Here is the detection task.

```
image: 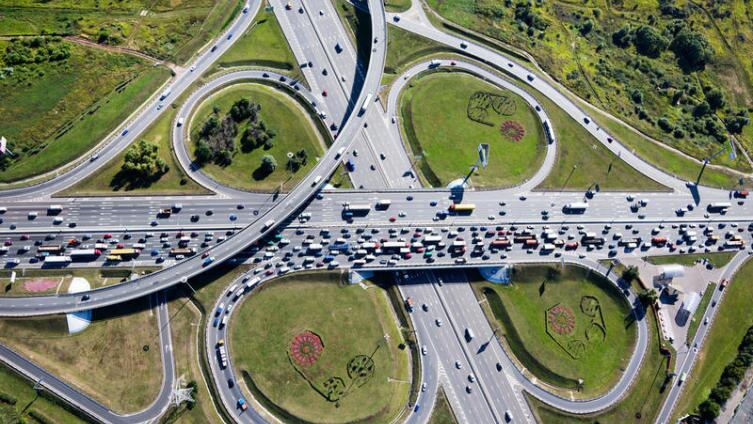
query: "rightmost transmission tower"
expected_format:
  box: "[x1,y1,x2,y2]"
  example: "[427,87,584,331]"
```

[176,373,199,411]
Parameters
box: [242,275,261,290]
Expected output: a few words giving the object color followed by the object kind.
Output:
white vehicle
